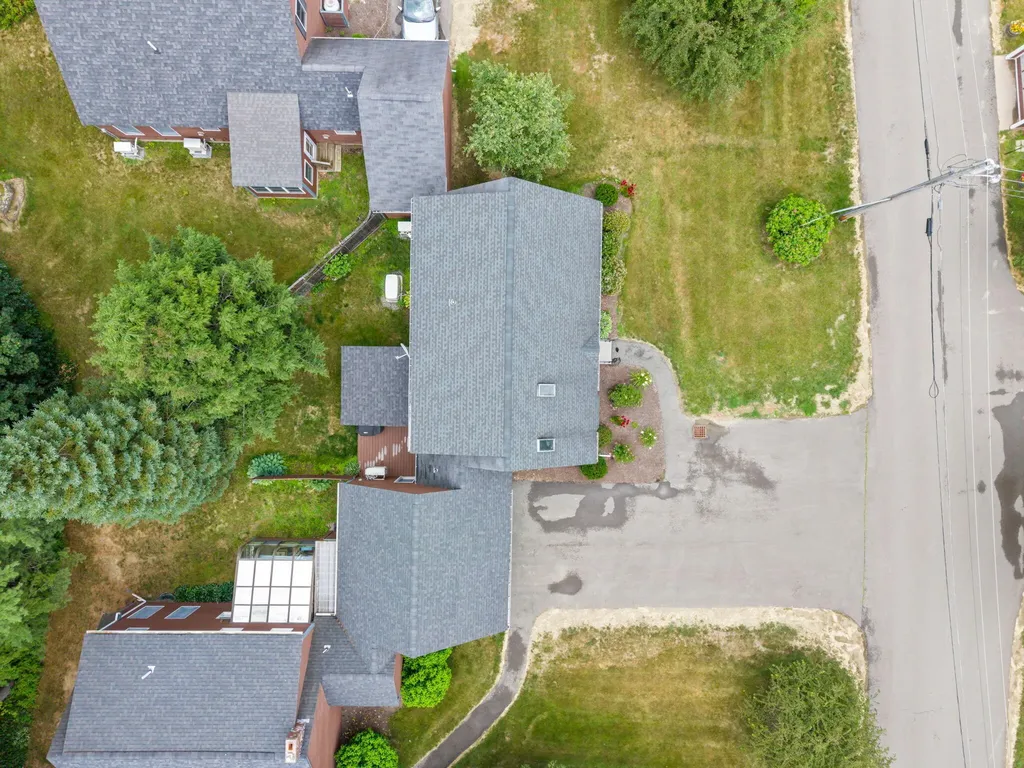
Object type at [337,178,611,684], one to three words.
house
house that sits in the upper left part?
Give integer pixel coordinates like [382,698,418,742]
[34,0,451,217]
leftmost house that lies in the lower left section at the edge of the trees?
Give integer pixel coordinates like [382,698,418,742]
[48,530,404,768]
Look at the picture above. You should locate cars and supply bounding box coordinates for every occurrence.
[397,0,444,36]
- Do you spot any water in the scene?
No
